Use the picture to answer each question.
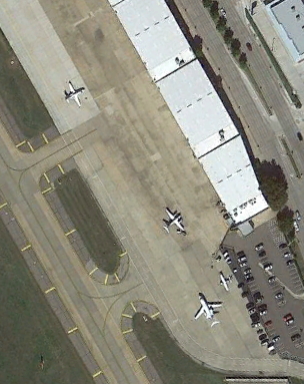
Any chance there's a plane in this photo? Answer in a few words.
Yes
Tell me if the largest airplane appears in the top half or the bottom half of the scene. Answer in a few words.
bottom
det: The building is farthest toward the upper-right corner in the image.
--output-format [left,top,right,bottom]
[265,0,304,64]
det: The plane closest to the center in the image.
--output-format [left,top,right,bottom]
[161,209,185,234]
